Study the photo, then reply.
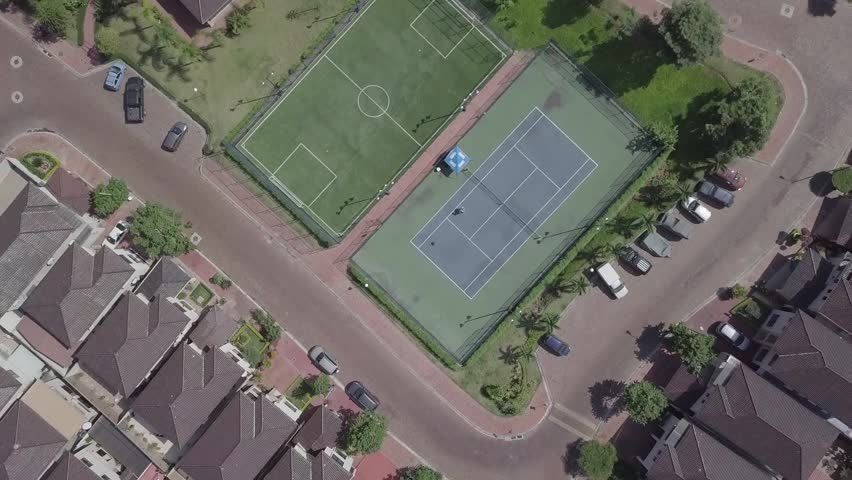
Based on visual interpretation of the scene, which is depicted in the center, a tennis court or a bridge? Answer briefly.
tennis court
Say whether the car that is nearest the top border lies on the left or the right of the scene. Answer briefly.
left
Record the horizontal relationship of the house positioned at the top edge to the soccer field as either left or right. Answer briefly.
to the left of it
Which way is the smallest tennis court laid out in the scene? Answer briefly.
diagonally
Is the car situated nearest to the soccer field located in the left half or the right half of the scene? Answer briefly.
left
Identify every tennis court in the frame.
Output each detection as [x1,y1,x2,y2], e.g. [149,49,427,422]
[419,116,589,290]
[351,47,647,359]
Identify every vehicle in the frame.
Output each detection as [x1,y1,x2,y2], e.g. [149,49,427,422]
[597,262,628,299]
[617,245,654,275]
[105,62,127,94]
[679,194,715,225]
[102,216,131,249]
[714,320,750,351]
[541,332,574,358]
[161,119,190,155]
[711,166,748,190]
[307,344,339,376]
[656,211,695,243]
[344,379,379,408]
[123,78,146,123]
[696,181,737,207]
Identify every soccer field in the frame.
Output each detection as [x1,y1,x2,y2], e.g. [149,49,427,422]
[238,0,512,240]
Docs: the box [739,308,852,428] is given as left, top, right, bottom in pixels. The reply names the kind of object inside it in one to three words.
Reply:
house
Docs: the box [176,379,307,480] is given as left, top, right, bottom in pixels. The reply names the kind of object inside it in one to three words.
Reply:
house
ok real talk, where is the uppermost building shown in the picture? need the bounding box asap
[178,0,240,33]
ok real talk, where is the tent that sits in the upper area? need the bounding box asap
[444,147,470,173]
